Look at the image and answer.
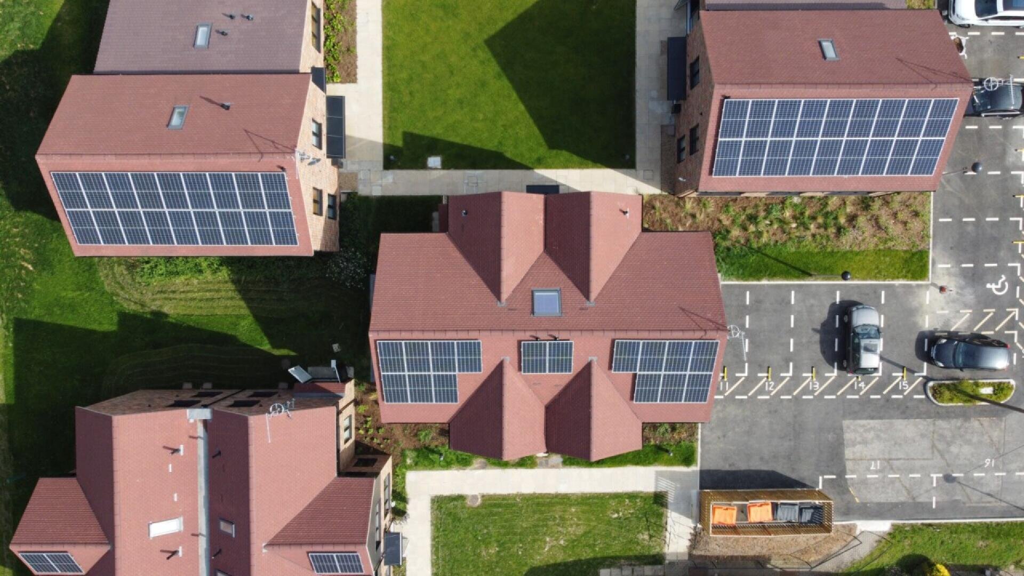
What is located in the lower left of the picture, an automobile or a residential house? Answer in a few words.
residential house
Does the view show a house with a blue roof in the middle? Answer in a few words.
No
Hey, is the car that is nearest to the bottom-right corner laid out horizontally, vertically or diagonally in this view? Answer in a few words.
horizontally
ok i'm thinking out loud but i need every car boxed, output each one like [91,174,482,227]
[925,336,1012,375]
[839,305,882,377]
[943,0,1024,31]
[967,83,1024,121]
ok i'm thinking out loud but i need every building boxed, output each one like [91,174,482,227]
[35,71,345,258]
[369,185,751,462]
[666,8,1015,197]
[10,364,401,576]
[699,489,835,535]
